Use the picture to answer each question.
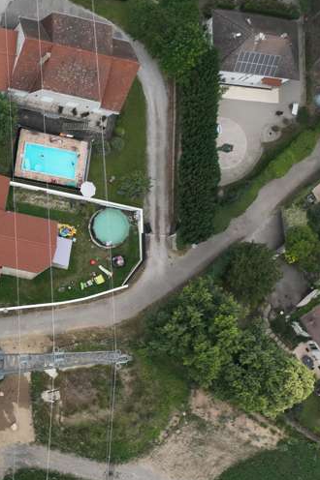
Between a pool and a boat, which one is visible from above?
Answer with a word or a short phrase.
pool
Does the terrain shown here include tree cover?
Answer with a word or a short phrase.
Yes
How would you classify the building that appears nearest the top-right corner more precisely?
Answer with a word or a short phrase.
home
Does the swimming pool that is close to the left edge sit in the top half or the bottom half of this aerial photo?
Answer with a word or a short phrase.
top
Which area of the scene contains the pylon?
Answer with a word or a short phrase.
bottom left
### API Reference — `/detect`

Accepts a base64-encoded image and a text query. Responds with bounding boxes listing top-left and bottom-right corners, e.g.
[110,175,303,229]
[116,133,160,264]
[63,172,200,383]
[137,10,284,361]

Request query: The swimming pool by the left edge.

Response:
[12,128,91,186]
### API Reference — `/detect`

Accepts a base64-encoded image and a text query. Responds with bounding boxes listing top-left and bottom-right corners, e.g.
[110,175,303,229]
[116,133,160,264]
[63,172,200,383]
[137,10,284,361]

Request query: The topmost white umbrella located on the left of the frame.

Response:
[78,181,96,197]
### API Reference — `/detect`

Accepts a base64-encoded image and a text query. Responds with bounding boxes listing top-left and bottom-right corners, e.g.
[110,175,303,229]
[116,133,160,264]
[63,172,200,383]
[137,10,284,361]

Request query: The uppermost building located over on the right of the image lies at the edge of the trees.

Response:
[201,9,299,102]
